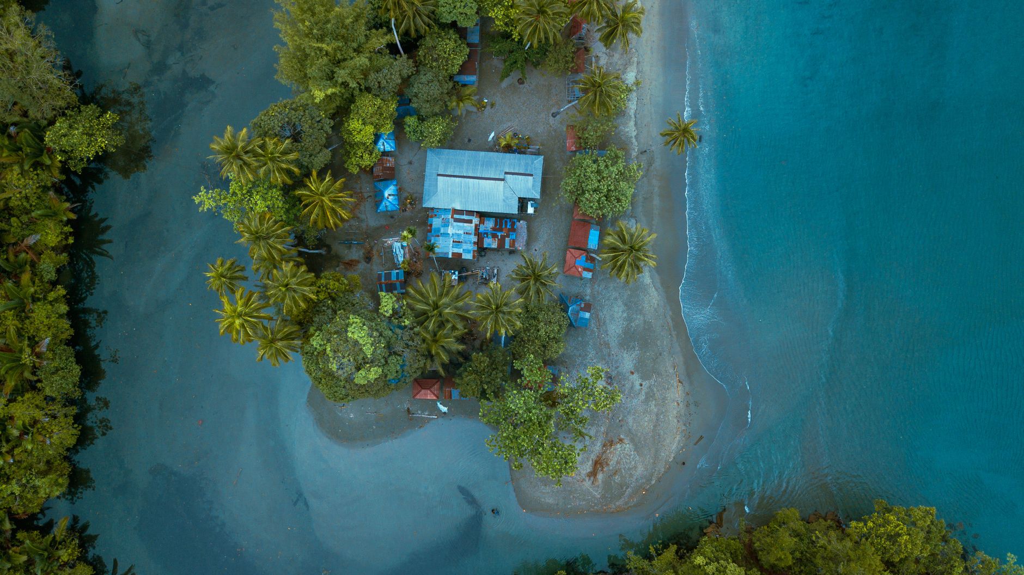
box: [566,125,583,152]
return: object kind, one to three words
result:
shed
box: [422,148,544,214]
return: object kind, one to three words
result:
house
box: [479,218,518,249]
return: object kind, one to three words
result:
house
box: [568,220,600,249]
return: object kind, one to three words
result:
shed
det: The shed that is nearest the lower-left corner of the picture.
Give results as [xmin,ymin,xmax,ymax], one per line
[412,378,440,400]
